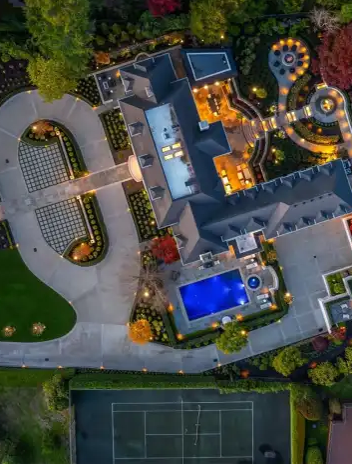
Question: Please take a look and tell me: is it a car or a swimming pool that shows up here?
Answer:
swimming pool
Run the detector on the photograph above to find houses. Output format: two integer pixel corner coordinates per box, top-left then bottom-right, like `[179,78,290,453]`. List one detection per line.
[322,396,352,464]
[118,48,352,266]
